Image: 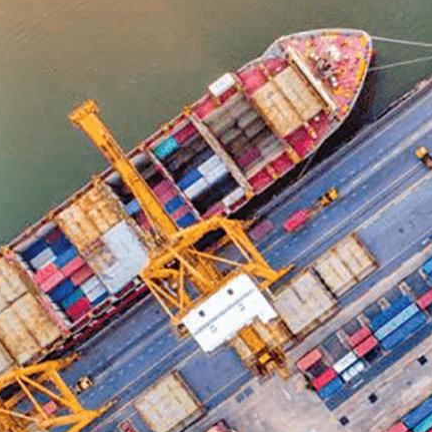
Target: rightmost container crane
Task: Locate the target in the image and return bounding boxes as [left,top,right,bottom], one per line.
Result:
[66,102,293,386]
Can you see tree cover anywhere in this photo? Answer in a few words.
No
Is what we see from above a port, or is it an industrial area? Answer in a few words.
port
